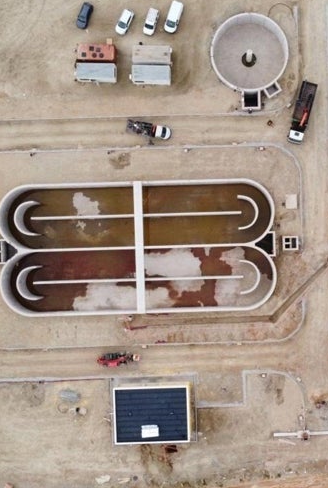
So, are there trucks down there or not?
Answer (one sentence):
Yes, the photo shows a truck.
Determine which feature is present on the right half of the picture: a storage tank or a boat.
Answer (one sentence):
Looking on the right half of the picture, you will find a storage tank.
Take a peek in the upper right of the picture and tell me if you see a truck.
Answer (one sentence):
Yes, a truck appears in the upper right of the picture.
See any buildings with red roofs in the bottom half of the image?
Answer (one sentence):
No, no building with a red roof can be made out in the bottom half of the image.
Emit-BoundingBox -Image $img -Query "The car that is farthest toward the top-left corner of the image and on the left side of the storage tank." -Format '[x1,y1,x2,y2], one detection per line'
[77,1,94,31]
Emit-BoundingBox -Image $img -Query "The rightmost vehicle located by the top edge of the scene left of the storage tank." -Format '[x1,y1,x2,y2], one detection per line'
[164,0,184,35]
